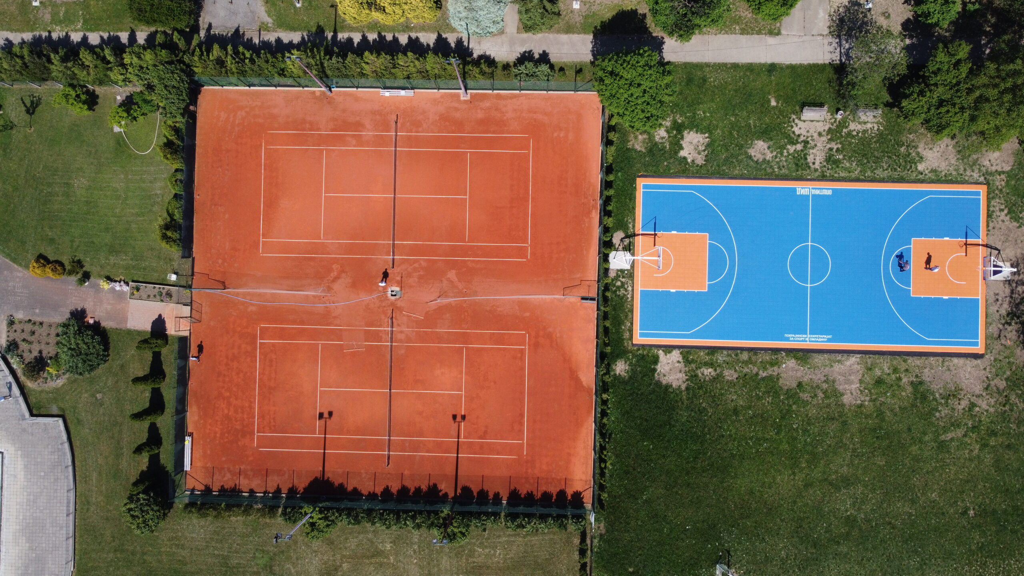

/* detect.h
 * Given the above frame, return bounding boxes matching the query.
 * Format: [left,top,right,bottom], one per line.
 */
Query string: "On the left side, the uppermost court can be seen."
[192,88,600,296]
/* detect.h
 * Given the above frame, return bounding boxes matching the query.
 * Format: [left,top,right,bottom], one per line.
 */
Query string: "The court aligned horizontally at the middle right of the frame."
[632,175,987,358]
